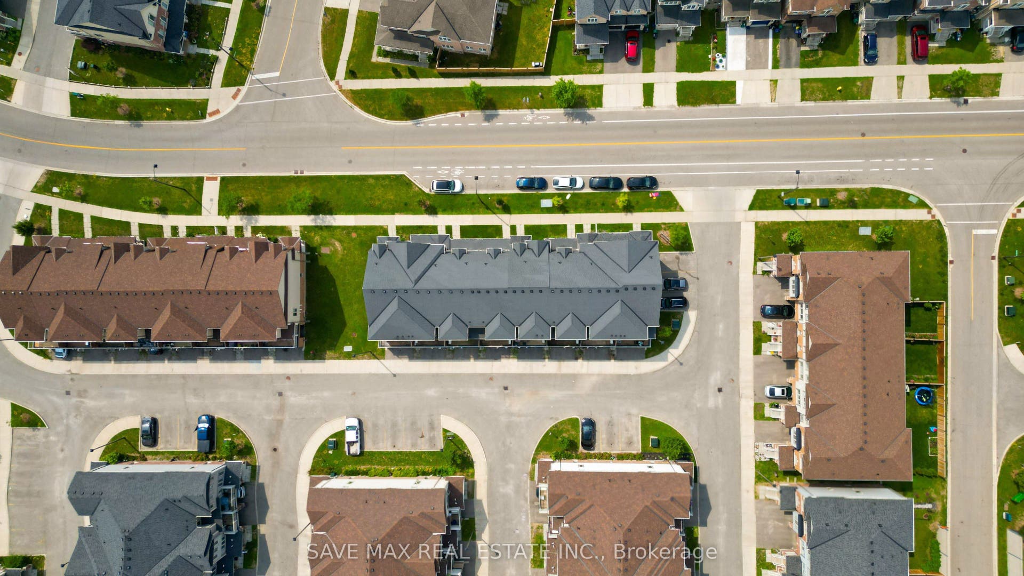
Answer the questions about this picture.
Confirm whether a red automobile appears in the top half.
Yes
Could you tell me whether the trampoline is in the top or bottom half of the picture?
bottom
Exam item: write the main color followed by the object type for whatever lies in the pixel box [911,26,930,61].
red car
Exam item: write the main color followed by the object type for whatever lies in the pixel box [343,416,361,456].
white vehicle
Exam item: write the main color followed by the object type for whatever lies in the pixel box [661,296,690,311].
black car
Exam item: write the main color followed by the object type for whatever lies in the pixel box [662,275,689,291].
black car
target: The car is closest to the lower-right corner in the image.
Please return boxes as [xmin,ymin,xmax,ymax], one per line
[764,385,793,400]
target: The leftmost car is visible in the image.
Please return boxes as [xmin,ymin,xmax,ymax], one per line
[52,348,70,362]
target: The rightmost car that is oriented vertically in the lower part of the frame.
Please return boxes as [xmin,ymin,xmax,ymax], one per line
[580,417,595,450]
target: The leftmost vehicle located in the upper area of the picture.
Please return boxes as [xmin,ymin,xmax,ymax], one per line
[431,178,463,193]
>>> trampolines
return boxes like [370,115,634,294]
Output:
[913,387,941,408]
